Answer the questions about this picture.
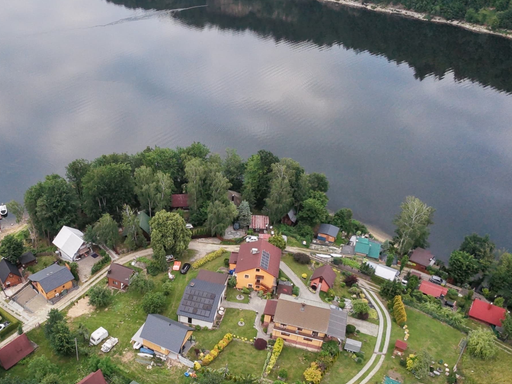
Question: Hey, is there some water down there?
Yes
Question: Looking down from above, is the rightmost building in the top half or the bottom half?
bottom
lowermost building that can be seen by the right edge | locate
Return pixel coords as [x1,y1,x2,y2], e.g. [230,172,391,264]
[469,297,509,329]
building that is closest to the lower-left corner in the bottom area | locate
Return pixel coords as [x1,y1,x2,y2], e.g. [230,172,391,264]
[0,334,35,371]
